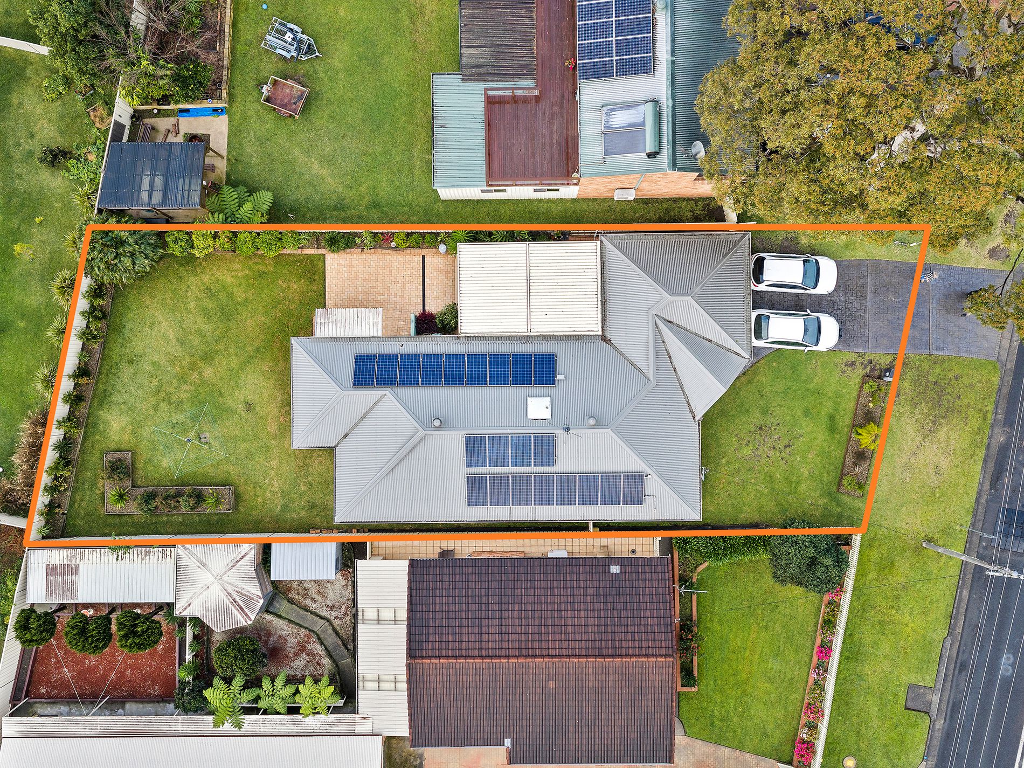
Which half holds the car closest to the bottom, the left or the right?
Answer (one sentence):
The car closest to the bottom sits on the right side.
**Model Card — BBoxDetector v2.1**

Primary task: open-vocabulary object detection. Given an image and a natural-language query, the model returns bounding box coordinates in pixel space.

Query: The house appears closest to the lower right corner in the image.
[404,554,682,766]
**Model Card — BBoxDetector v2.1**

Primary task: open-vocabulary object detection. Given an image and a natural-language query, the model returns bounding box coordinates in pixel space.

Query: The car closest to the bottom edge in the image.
[753,309,836,352]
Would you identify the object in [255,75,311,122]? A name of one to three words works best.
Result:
trailer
